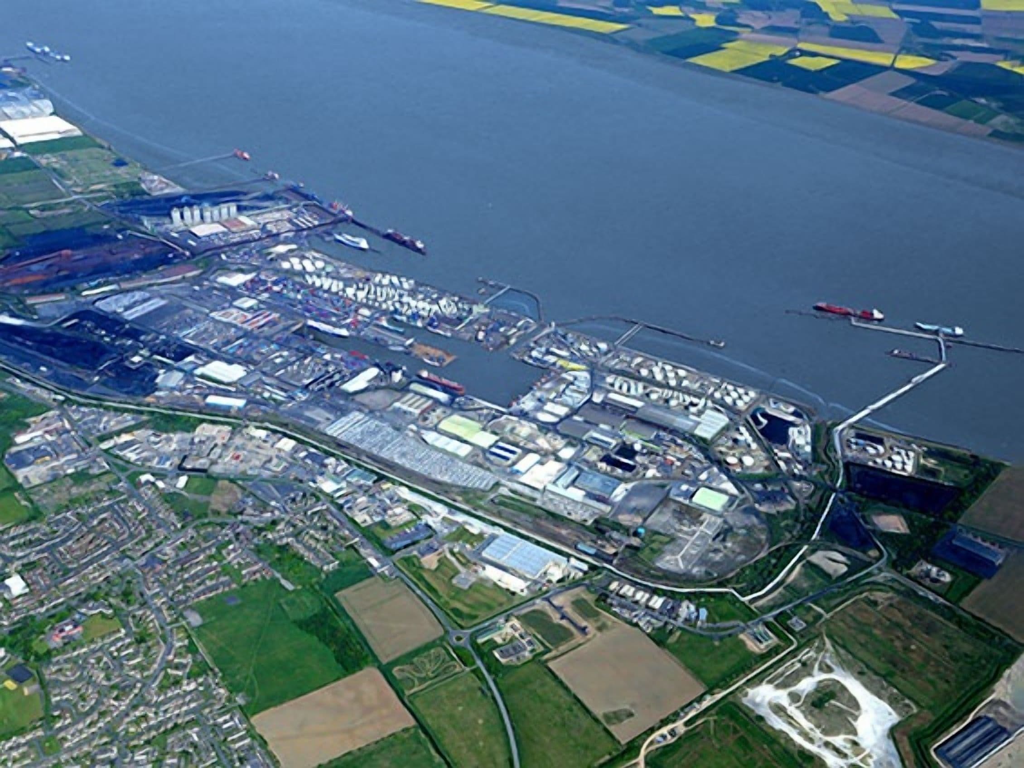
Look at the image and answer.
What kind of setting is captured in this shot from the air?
port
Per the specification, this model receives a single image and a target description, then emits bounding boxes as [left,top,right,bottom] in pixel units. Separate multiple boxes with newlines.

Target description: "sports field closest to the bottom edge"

[0,677,44,740]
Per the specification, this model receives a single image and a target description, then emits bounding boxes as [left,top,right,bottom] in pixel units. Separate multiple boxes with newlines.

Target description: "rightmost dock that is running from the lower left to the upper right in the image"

[833,363,947,430]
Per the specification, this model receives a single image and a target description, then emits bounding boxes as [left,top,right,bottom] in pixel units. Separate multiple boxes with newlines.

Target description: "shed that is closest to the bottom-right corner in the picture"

[934,716,1010,768]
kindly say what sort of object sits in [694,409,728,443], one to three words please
building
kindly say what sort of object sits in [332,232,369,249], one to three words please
ship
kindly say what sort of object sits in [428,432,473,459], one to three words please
shed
